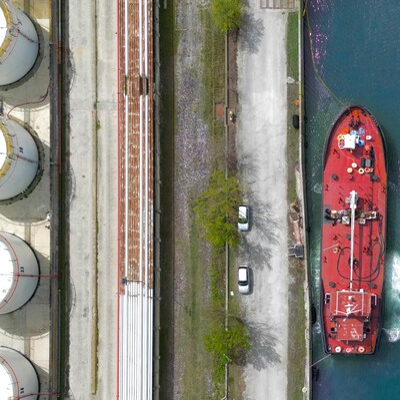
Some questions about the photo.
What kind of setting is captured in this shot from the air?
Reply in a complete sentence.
The picture captures an industrial area.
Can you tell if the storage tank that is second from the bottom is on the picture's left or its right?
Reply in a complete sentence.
It is on the left.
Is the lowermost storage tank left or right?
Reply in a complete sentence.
The lowermost storage tank sits on the left side.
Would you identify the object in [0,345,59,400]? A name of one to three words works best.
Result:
storage tank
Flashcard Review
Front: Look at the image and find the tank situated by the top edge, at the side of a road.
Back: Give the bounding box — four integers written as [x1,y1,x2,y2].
[0,0,59,90]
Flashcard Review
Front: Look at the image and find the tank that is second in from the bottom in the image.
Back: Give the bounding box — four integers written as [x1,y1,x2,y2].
[0,229,59,315]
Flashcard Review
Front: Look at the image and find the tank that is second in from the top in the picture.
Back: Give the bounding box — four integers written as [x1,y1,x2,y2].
[0,112,59,205]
